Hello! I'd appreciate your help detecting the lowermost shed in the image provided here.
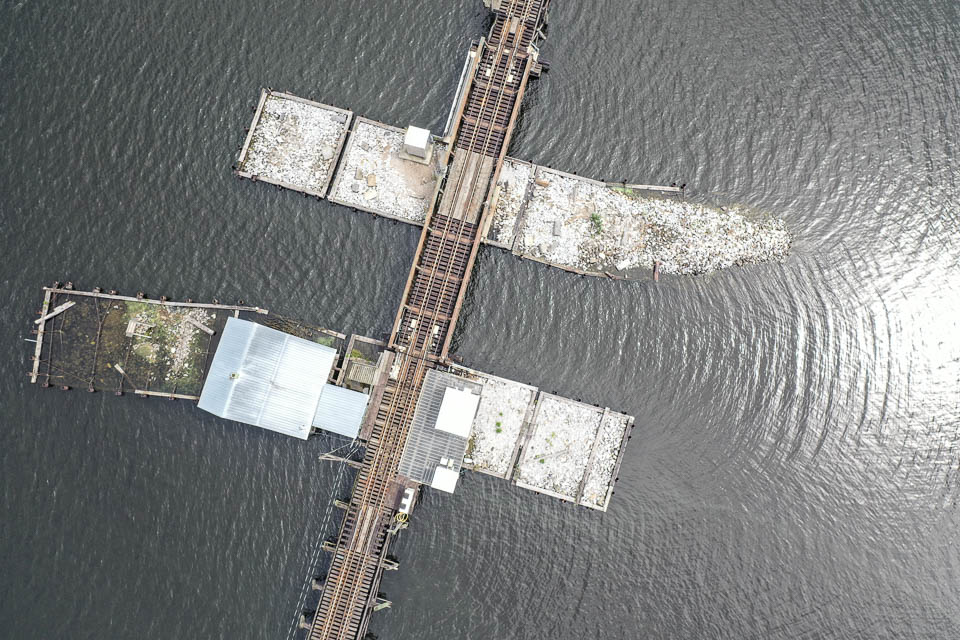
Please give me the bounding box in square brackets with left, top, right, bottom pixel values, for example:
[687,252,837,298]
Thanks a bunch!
[431,461,460,493]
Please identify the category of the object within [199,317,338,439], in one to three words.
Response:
house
